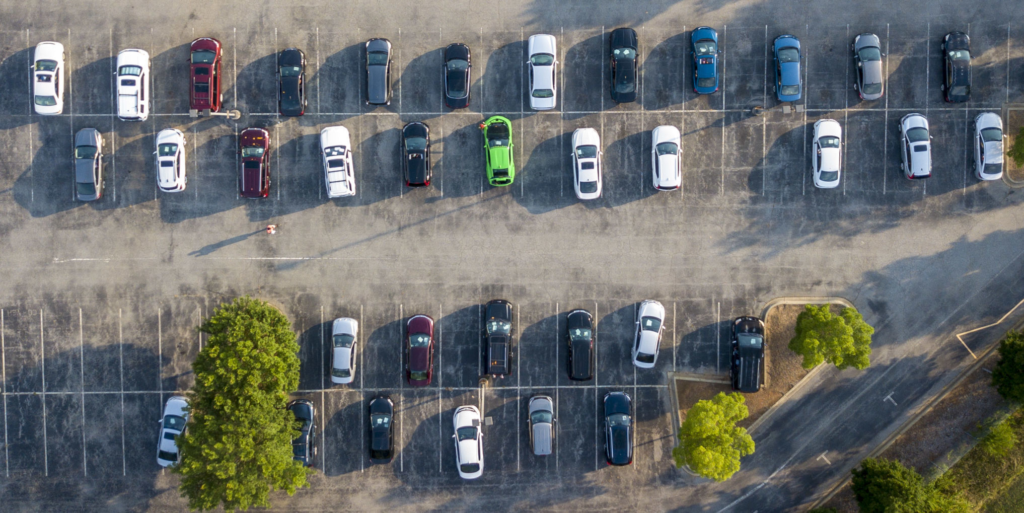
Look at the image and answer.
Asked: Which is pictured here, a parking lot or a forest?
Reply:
parking lot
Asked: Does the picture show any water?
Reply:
No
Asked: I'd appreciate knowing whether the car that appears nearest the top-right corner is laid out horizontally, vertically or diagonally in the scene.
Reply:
vertically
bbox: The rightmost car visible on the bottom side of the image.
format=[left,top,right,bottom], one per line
[731,315,768,394]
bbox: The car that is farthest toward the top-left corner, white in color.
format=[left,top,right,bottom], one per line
[28,41,68,115]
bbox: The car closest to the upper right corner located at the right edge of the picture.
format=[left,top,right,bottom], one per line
[939,31,977,102]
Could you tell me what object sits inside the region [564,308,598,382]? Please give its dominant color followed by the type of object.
black car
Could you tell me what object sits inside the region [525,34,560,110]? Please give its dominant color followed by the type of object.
white car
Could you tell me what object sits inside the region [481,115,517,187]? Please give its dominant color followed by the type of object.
green car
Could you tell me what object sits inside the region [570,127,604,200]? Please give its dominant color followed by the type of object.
white car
